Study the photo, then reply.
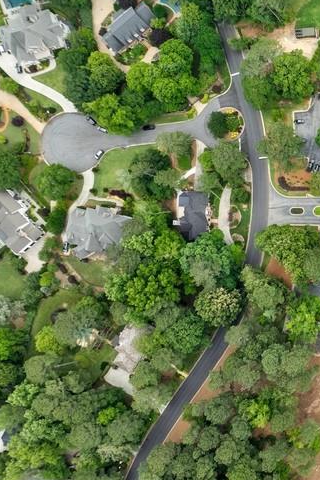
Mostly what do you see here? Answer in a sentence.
The largest share of the image is taken up by trees.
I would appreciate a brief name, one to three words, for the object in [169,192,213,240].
house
